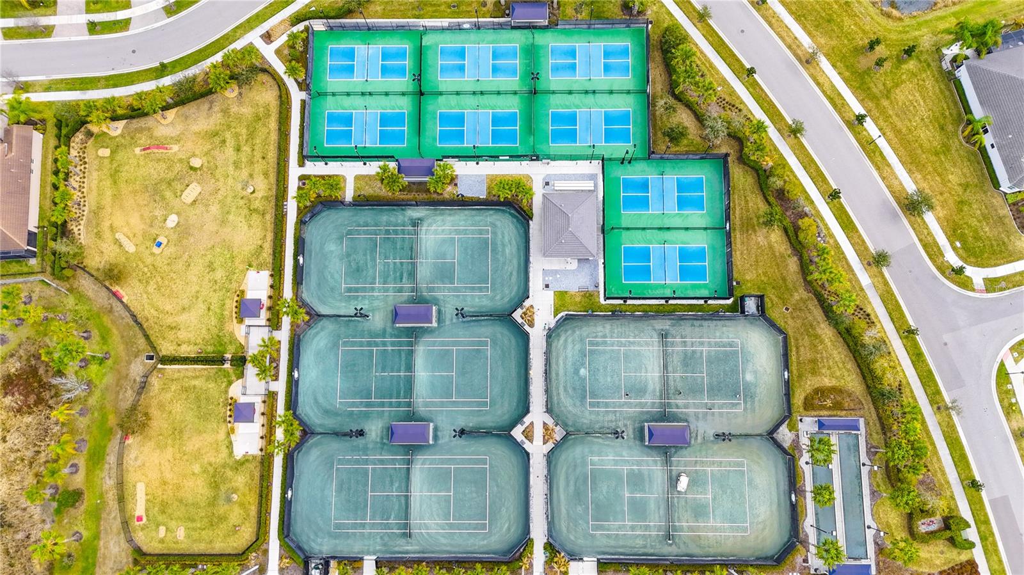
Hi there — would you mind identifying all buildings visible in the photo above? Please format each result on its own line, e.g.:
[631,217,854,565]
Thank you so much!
[0,125,41,256]
[957,48,1024,190]
[542,191,598,259]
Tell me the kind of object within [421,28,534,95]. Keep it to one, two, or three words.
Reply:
sports court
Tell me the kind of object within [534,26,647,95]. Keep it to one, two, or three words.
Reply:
sports court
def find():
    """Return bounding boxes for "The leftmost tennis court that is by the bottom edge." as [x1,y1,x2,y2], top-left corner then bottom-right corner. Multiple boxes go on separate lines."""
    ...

[291,432,529,559]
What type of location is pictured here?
sports ground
